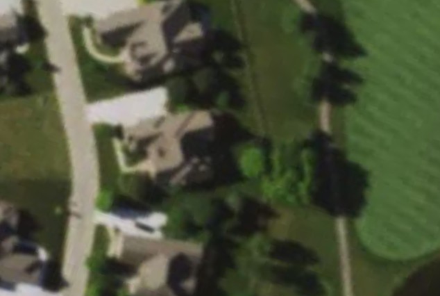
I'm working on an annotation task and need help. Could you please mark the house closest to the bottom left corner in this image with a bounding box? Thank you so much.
[0,215,41,292]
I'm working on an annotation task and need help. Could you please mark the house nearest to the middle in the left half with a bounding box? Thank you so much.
[109,101,227,194]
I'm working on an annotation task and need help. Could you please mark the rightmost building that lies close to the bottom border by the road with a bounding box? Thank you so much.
[111,228,204,296]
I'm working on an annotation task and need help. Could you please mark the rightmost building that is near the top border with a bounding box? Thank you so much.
[90,0,211,85]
